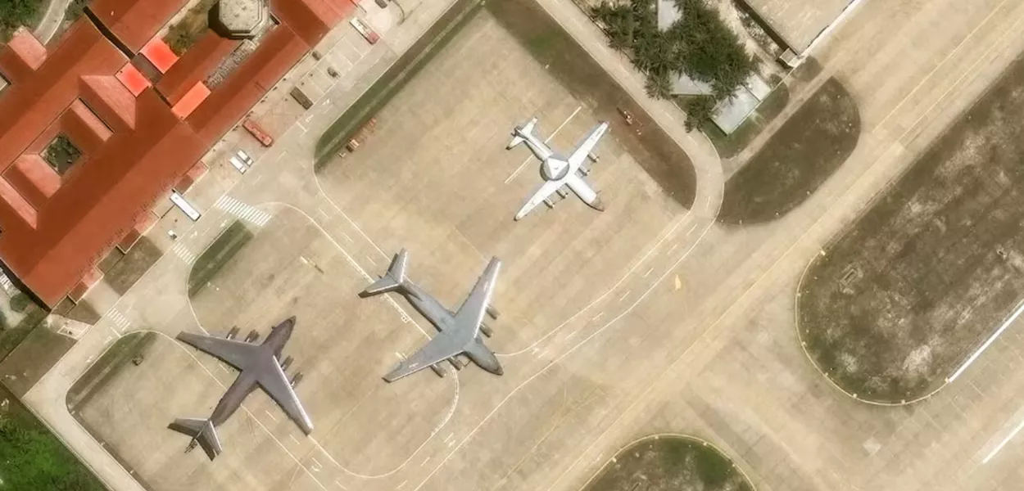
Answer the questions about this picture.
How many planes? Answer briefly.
three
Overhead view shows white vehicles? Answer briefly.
Yes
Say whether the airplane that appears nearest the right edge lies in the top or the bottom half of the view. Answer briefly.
top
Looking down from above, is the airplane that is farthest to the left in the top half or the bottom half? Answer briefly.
bottom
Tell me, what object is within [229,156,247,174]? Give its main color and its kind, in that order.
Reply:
white vehicle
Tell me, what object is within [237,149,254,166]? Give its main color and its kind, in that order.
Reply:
white vehicle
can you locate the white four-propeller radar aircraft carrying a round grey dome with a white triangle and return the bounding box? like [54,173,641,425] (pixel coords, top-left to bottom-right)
[507,114,608,218]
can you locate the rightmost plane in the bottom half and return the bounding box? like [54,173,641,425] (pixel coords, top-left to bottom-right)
[362,249,503,383]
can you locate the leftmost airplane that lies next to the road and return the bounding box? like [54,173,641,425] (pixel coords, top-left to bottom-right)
[172,317,309,458]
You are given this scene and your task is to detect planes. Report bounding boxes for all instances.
[507,114,608,218]
[362,249,503,383]
[172,317,309,458]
